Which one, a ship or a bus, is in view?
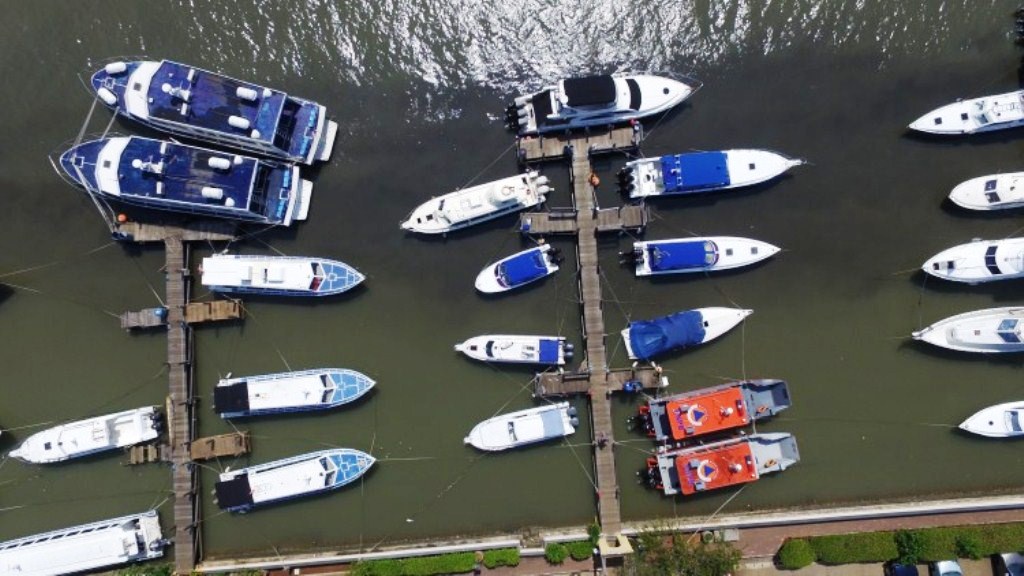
ship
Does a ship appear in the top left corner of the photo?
Yes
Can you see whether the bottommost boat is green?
No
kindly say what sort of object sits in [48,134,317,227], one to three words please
ship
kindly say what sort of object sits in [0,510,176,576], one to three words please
boat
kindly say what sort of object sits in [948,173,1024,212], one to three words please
boat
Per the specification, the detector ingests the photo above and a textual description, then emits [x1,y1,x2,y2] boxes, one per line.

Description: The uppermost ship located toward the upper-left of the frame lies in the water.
[80,56,341,167]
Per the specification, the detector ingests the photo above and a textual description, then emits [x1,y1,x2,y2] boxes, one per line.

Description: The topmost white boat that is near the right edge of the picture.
[907,90,1024,135]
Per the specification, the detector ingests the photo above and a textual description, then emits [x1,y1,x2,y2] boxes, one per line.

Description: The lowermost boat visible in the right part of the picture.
[637,434,801,499]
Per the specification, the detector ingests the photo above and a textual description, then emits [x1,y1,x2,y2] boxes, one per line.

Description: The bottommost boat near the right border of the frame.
[957,398,1024,439]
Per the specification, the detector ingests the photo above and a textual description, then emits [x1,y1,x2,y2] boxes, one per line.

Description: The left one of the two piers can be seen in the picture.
[119,217,241,571]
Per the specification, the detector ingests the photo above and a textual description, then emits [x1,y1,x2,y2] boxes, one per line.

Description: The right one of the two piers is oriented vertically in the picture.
[518,124,663,538]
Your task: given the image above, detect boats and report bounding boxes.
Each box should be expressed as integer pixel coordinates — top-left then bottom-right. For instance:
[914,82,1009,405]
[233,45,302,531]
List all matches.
[904,306,1024,355]
[0,510,176,576]
[948,173,1024,212]
[459,401,582,449]
[398,171,559,232]
[907,90,1024,135]
[3,406,181,462]
[215,450,376,513]
[200,248,367,295]
[621,307,756,360]
[616,238,781,275]
[475,243,571,290]
[957,398,1024,439]
[610,151,800,198]
[921,236,1024,283]
[637,434,801,499]
[452,334,573,367]
[214,368,376,416]
[630,379,792,443]
[510,76,701,135]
